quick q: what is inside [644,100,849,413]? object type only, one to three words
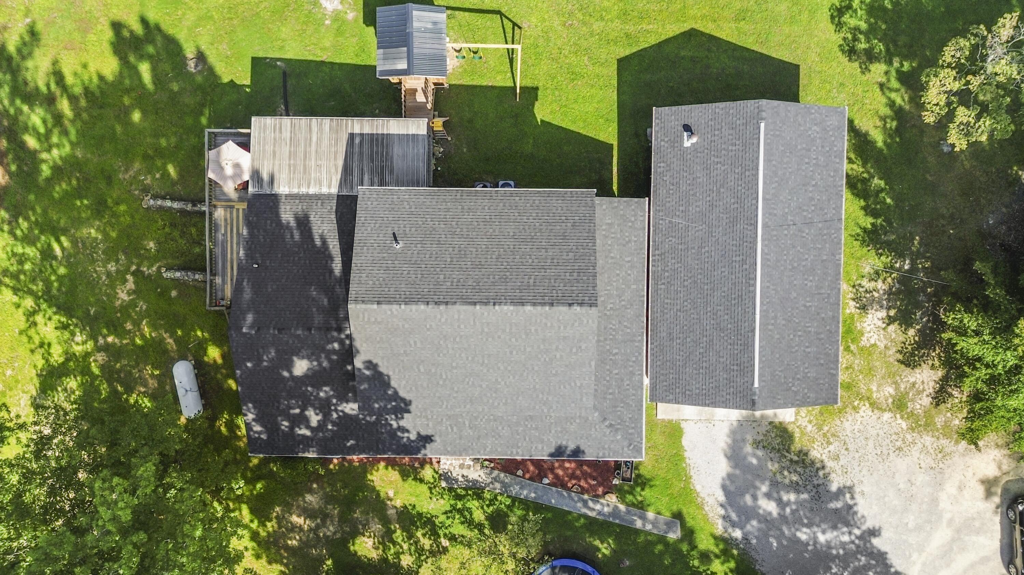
building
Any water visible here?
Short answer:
No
